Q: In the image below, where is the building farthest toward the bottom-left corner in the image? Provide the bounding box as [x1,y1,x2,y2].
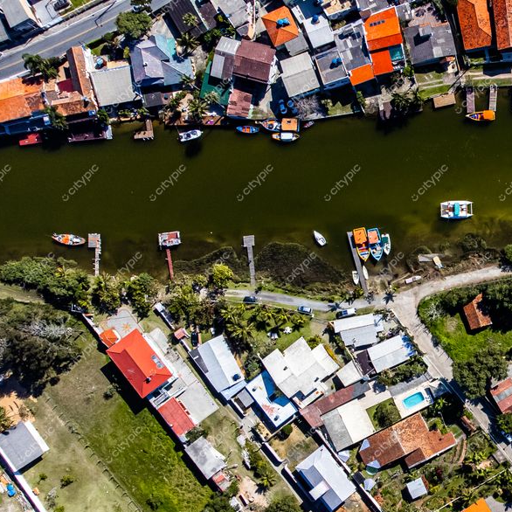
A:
[0,420,51,471]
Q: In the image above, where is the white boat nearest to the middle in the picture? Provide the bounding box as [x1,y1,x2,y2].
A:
[312,230,326,247]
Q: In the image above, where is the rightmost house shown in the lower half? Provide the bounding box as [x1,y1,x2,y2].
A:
[491,378,512,414]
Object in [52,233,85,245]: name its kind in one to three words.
boat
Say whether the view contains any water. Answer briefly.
Yes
